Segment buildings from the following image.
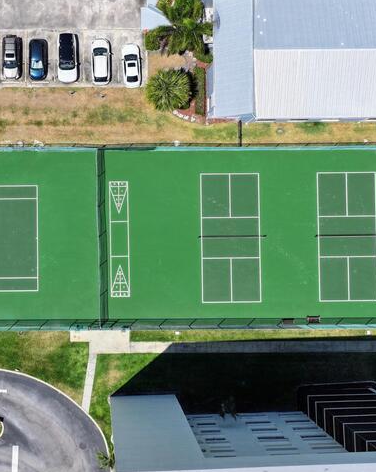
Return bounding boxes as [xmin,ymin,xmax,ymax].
[111,387,376,472]
[251,0,376,125]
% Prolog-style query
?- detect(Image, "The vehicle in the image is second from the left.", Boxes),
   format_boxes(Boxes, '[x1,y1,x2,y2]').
[26,39,48,82]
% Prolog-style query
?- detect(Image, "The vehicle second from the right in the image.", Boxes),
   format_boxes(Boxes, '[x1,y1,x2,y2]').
[90,40,112,87]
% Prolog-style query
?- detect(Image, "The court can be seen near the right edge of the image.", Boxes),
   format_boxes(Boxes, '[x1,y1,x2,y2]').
[317,172,376,301]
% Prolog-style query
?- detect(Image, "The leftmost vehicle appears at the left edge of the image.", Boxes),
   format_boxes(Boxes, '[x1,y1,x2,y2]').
[0,36,21,84]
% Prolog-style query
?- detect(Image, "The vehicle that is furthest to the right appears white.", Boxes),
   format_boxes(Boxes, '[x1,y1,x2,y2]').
[120,44,141,90]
